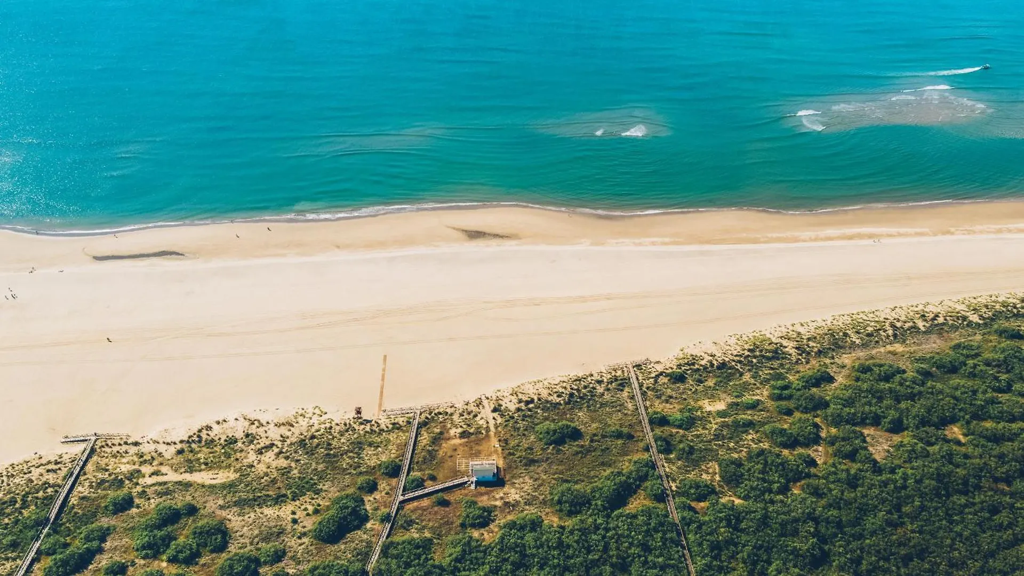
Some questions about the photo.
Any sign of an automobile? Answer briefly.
No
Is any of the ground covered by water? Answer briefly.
Yes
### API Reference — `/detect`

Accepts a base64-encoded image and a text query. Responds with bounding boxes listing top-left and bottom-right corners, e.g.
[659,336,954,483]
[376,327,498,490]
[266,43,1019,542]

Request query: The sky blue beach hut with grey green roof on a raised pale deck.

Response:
[457,458,497,489]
